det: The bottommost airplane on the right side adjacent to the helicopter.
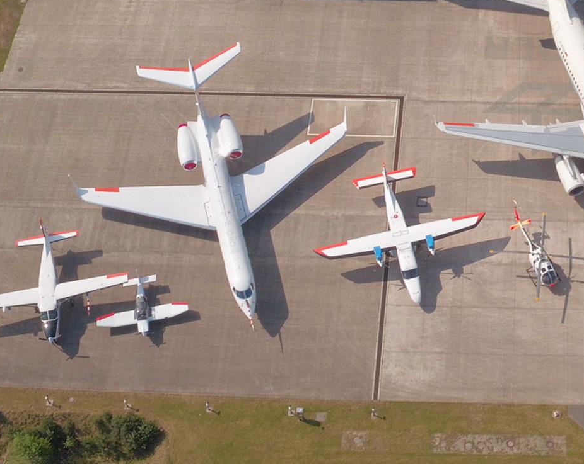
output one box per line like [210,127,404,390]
[313,158,485,306]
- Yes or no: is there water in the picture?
No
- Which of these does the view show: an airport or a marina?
airport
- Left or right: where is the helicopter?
right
